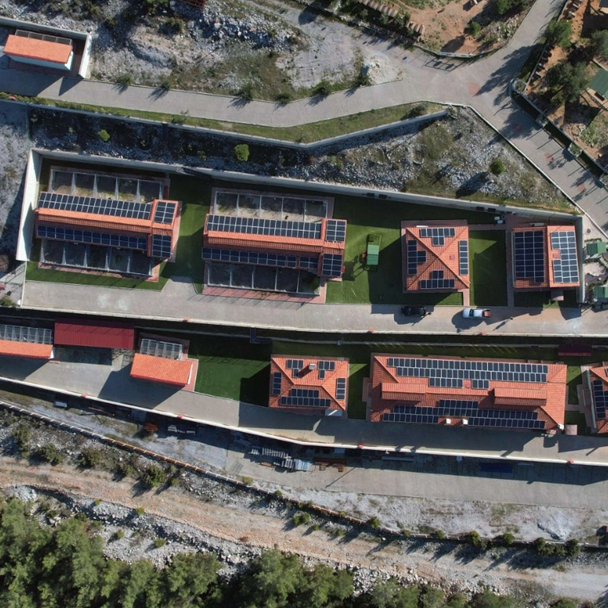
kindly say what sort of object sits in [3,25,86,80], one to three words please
shed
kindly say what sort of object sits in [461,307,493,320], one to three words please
vehicle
